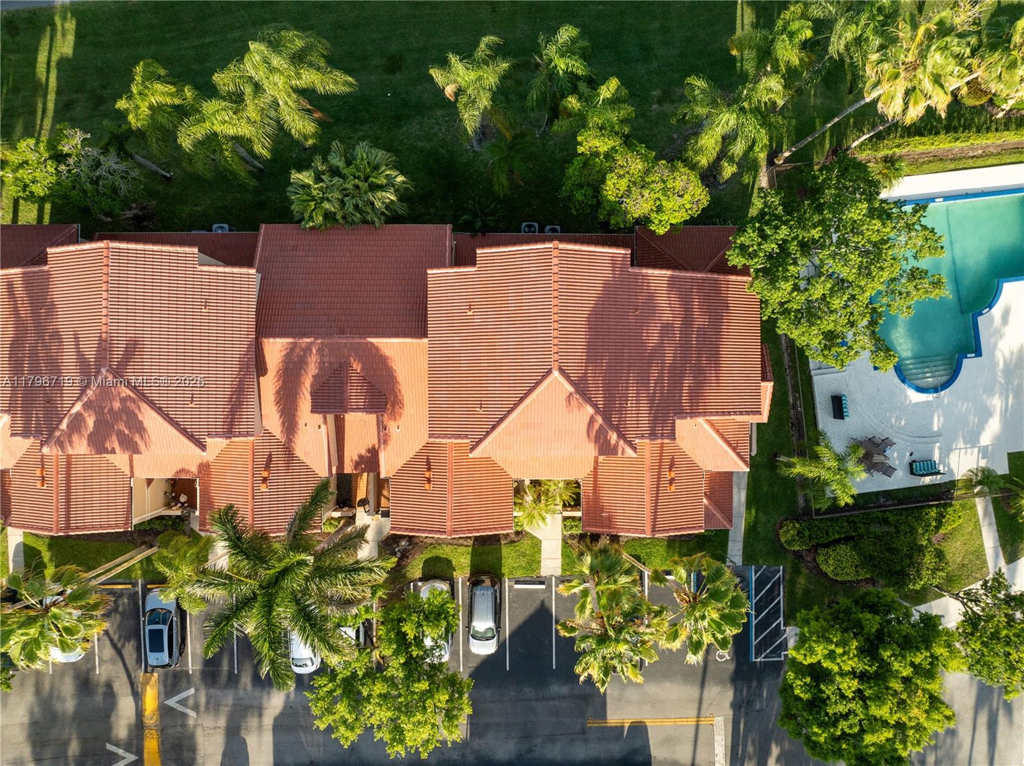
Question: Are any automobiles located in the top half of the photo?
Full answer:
No, in the top half of the photo there is no automobile.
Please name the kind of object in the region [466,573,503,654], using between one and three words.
car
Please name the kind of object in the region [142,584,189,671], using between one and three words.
car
